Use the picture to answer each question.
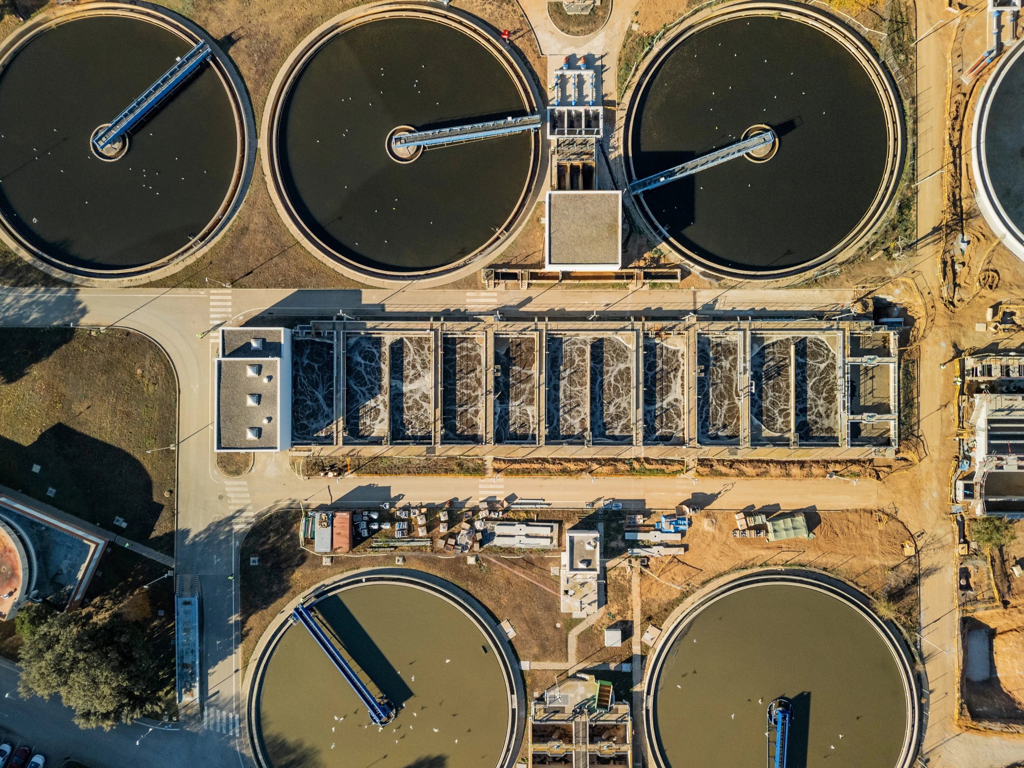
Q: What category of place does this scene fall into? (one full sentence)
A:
This image shows an industrial area.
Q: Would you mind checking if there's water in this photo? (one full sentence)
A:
Yes, some water is visible.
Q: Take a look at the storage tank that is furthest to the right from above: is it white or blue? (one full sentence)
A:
The storage tank that is furthest to the right is white.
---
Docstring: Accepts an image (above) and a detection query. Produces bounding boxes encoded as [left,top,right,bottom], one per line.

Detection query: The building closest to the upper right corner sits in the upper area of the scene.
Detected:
[540,191,622,271]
